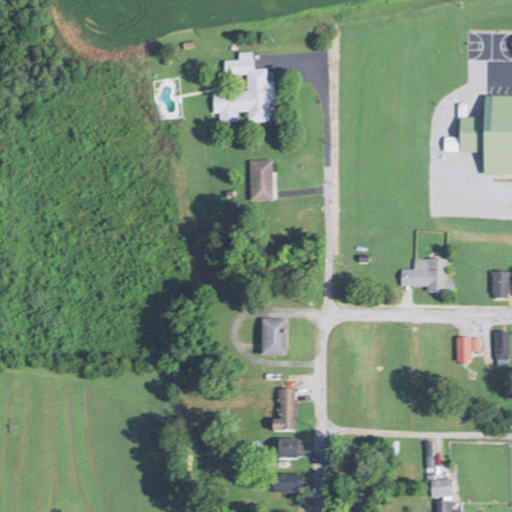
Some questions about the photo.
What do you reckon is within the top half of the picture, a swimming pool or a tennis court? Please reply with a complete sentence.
There is a swimming pool within the top half of the picture.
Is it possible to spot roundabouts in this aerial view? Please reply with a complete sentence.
No, the scene contains no roundabout.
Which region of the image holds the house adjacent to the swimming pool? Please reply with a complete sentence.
The house adjacent to the swimming pool sits in the top section of the image.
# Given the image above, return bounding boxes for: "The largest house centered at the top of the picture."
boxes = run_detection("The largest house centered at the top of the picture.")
[214,52,274,124]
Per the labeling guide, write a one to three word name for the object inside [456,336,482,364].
building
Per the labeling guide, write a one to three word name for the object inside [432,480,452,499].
building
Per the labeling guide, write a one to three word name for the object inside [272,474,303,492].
house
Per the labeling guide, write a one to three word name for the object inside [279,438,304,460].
house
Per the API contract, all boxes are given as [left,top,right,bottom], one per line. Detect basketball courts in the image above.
[469,32,512,61]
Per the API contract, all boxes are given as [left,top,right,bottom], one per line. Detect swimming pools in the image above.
[154,80,195,118]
